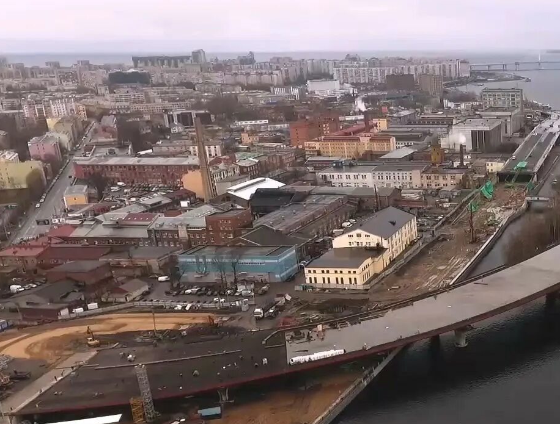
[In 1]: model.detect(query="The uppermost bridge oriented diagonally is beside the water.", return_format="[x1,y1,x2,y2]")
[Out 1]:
[497,111,560,182]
